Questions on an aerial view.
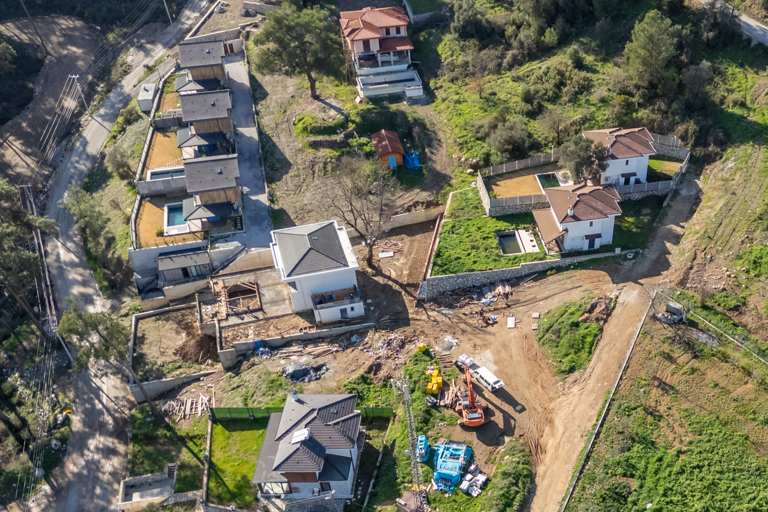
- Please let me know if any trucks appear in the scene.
Yes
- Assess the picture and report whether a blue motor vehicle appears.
No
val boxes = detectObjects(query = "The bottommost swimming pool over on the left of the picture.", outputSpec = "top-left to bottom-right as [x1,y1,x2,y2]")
[164,201,190,240]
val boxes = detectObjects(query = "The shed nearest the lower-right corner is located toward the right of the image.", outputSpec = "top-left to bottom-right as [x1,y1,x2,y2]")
[663,297,689,315]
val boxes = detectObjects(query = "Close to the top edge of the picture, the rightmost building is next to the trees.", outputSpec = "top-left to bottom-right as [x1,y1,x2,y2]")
[340,7,415,72]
